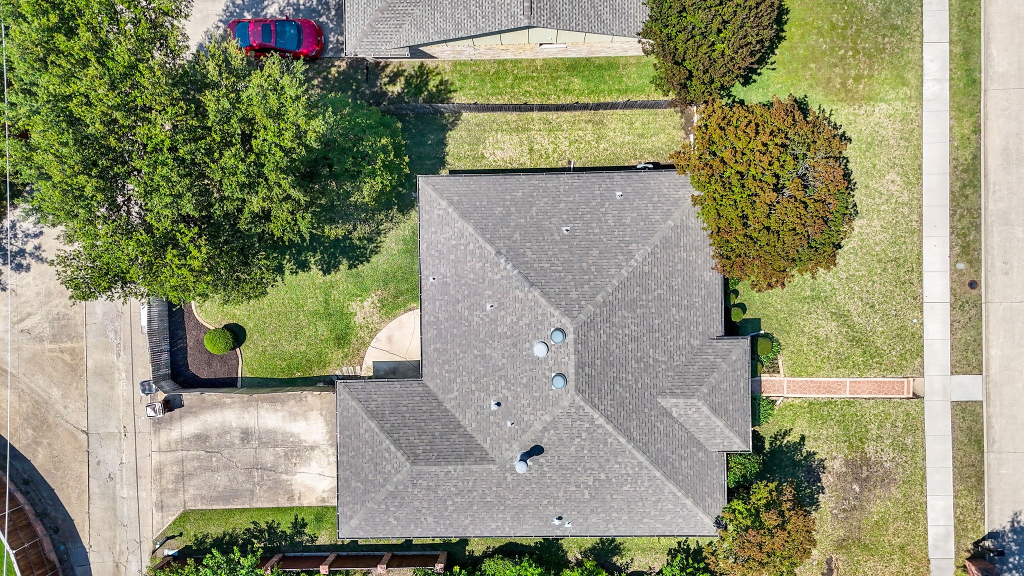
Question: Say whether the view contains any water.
No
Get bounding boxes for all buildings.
[340,0,657,61]
[336,171,751,540]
